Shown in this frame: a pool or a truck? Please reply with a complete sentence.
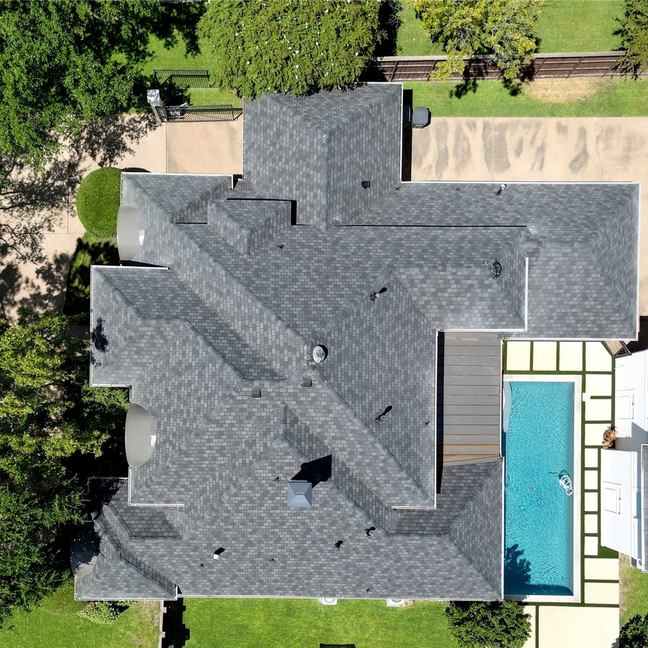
It is a pool that can be seen here.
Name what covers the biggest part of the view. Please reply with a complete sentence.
Most of the picture is covered by buildings.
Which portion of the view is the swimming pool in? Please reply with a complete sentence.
The swimming pool is in the bottom right part of the image.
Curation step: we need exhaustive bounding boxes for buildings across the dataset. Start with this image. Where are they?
[67,82,641,601]
[603,352,648,575]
